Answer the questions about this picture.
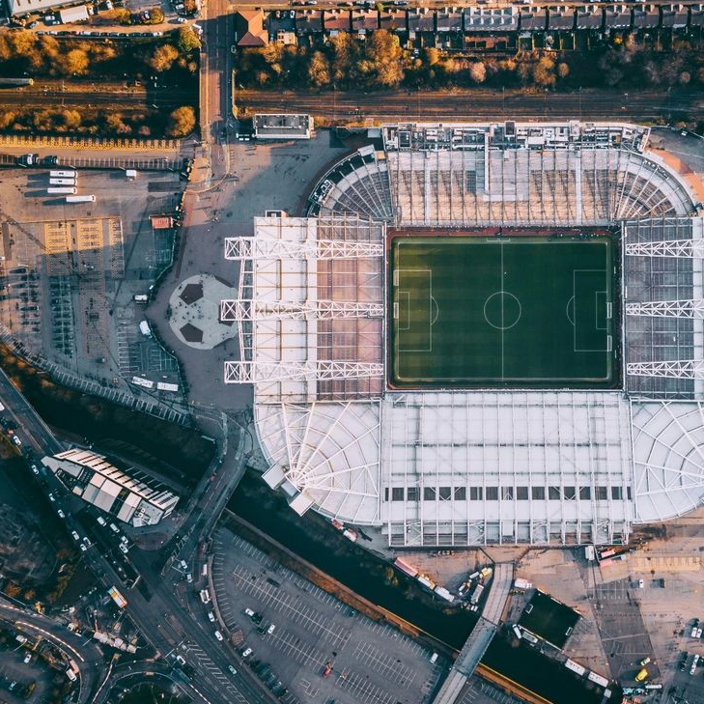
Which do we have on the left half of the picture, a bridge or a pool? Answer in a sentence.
There is a bridge on the left half of the picture.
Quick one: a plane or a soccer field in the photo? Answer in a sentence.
This aerial view contains a soccer field.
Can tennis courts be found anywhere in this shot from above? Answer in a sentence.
No, there appears to be no tennis court in this shot.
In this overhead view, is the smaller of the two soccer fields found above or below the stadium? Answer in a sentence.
The smaller of the two soccer fields is below the stadium.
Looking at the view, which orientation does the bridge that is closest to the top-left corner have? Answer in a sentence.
The bridge that is closest to the top-left corner runs up and down in the image.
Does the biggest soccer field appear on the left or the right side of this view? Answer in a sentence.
The biggest soccer field sits on the right side.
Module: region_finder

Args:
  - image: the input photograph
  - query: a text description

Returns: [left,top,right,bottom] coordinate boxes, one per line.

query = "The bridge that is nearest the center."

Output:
[180,448,257,544]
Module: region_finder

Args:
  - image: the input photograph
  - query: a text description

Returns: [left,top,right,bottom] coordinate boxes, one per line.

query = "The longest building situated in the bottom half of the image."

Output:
[41,447,182,528]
